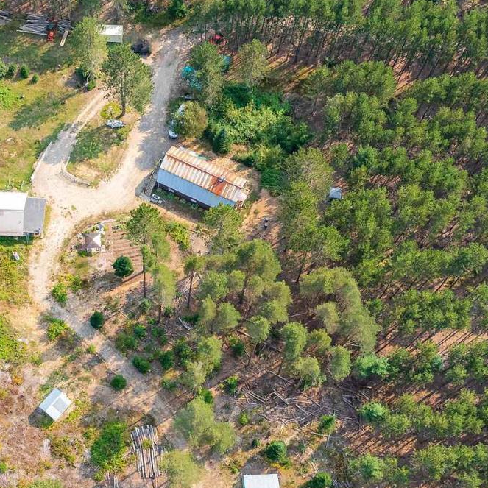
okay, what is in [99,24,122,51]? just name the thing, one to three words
shed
